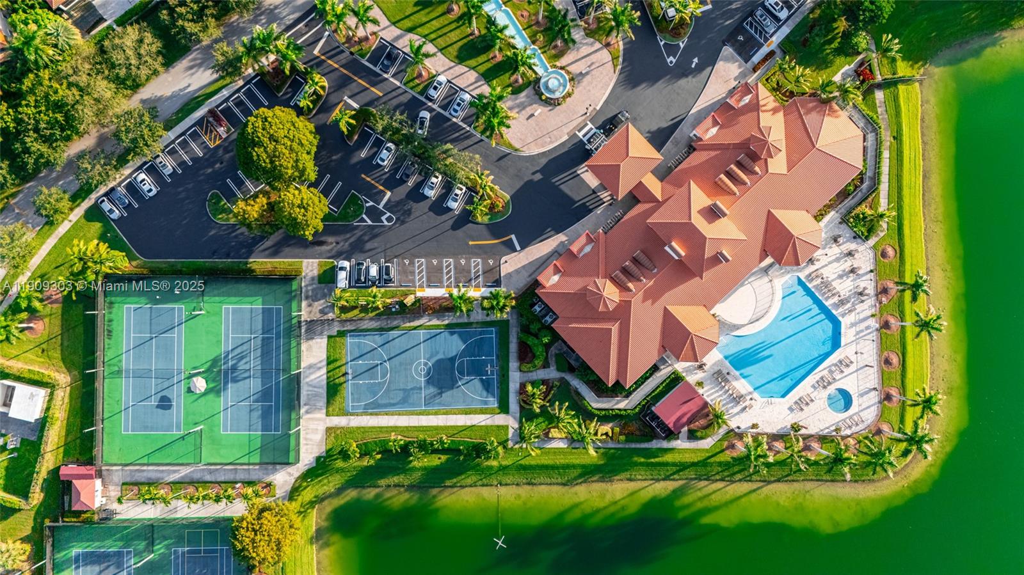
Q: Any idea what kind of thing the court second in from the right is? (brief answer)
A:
tennis court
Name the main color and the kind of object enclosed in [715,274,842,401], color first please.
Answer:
blue swimming pool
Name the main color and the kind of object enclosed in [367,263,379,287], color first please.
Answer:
white vehicle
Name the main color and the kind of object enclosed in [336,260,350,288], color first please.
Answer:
white car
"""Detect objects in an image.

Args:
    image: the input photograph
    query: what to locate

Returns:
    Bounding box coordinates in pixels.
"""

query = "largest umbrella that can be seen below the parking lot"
[190,376,207,393]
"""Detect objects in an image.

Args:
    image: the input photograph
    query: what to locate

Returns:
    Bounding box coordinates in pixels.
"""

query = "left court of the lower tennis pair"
[52,523,154,575]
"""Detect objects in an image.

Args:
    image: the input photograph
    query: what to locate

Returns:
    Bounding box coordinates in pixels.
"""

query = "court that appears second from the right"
[203,279,301,465]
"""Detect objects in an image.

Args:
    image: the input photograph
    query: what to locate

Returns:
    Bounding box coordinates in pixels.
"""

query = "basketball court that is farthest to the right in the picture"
[346,327,500,414]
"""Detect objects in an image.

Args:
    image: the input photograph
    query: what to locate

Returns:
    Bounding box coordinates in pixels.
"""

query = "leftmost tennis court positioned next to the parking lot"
[102,279,203,466]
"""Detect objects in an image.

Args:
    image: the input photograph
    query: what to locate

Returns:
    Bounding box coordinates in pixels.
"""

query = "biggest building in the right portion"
[535,82,863,388]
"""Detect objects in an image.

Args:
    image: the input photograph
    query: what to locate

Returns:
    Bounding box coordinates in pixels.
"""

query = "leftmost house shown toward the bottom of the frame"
[0,379,57,422]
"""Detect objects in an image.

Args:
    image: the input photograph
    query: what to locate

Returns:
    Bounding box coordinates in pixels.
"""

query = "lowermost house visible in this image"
[60,465,103,510]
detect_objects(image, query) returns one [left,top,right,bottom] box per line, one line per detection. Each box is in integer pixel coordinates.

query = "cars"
[384,262,394,285]
[573,0,590,23]
[135,171,158,196]
[376,141,397,167]
[367,263,379,287]
[353,259,367,286]
[427,74,447,100]
[108,184,131,209]
[446,184,467,210]
[379,46,399,72]
[417,111,430,135]
[753,9,777,34]
[336,260,350,288]
[764,0,787,21]
[398,157,418,183]
[152,152,175,177]
[423,173,443,197]
[450,92,470,117]
[98,195,122,220]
